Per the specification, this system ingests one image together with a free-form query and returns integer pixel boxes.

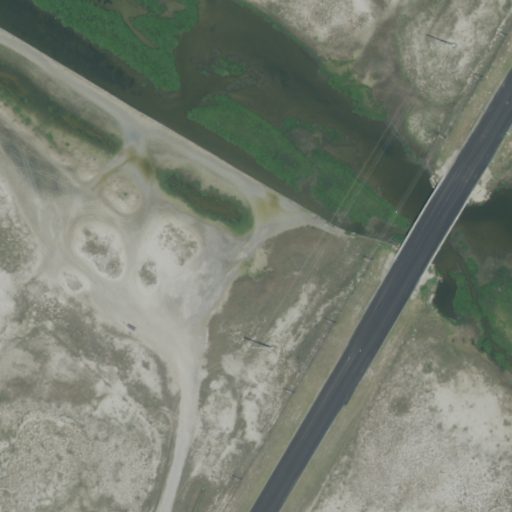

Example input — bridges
[396,170,477,277]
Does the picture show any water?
Yes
